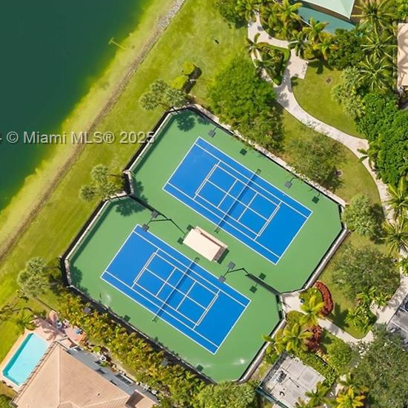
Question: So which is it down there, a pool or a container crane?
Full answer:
It is a pool that can be seen here.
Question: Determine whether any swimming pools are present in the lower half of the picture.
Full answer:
Yes, I can see a swimming pool in the lower half of the picture.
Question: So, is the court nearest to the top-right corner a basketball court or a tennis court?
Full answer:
In the photo, the court nearest to the top-right corner shows up as a tennis court.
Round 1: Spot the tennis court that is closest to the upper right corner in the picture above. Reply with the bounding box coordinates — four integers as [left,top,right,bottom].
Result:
[128,107,343,294]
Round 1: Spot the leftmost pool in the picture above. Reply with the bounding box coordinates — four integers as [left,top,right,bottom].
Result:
[1,332,50,387]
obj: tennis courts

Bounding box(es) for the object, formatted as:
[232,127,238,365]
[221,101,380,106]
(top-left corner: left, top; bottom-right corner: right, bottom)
[128,107,343,294]
[68,198,284,380]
